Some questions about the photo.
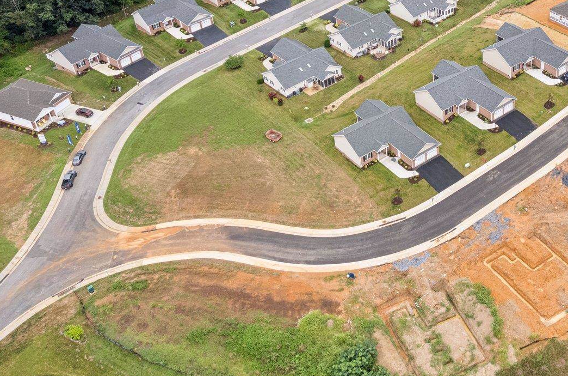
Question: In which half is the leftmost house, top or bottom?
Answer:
top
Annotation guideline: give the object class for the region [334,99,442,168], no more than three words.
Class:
house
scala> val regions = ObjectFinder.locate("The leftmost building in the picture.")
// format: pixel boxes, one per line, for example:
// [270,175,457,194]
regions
[0,76,70,133]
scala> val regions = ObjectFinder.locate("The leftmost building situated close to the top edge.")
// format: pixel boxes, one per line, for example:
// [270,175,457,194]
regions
[50,19,147,74]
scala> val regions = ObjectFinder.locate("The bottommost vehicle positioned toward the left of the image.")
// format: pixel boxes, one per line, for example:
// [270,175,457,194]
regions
[57,167,79,189]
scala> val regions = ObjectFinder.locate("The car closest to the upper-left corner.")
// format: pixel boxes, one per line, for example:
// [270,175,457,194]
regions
[73,104,95,117]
